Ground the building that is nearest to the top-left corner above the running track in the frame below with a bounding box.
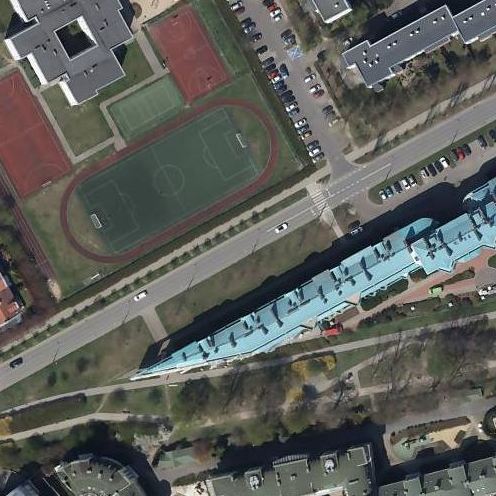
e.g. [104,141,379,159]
[9,0,133,106]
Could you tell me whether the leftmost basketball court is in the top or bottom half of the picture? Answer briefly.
top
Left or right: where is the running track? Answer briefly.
left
